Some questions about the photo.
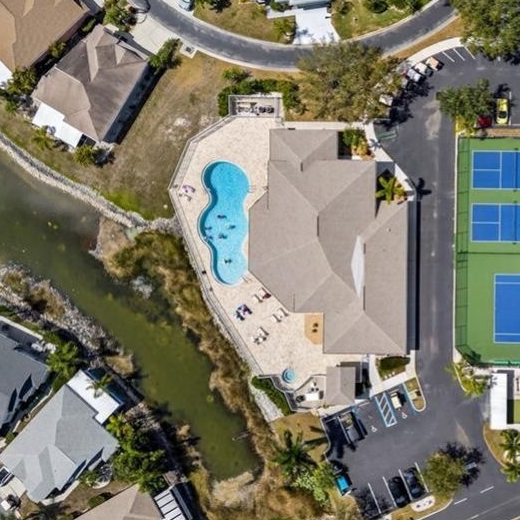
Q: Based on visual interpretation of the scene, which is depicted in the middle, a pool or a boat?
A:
pool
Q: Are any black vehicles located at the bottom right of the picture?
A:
Yes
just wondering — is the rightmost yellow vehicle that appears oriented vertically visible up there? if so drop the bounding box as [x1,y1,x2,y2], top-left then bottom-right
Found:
[495,98,509,126]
